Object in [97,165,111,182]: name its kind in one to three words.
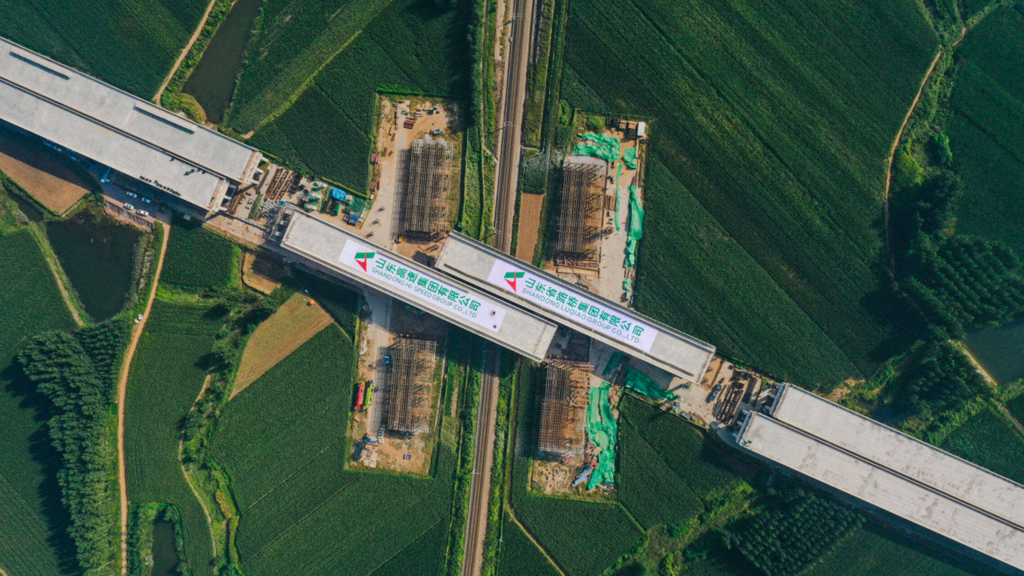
vehicle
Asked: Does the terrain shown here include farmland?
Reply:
Yes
